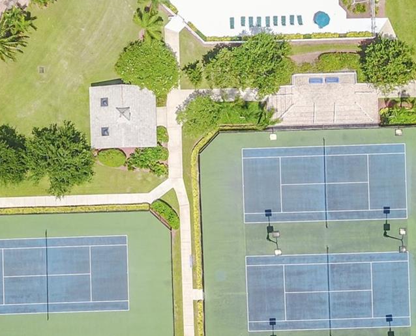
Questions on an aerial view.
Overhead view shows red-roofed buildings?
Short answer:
No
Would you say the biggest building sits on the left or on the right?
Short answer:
left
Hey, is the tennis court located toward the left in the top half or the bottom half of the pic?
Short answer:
bottom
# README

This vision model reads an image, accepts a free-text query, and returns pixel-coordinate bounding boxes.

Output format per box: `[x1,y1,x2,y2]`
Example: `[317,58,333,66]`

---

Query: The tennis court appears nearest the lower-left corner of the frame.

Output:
[0,231,130,321]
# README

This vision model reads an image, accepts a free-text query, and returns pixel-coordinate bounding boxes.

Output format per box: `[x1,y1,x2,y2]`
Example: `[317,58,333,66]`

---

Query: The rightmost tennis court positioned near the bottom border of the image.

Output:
[246,247,411,336]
